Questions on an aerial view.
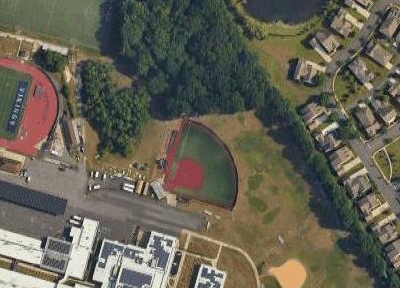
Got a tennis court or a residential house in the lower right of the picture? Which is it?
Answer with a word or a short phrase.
residential house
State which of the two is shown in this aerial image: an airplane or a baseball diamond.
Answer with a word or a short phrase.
baseball diamond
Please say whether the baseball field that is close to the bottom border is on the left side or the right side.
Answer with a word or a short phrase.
right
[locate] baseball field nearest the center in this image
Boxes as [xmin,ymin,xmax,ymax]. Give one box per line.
[162,118,238,210]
